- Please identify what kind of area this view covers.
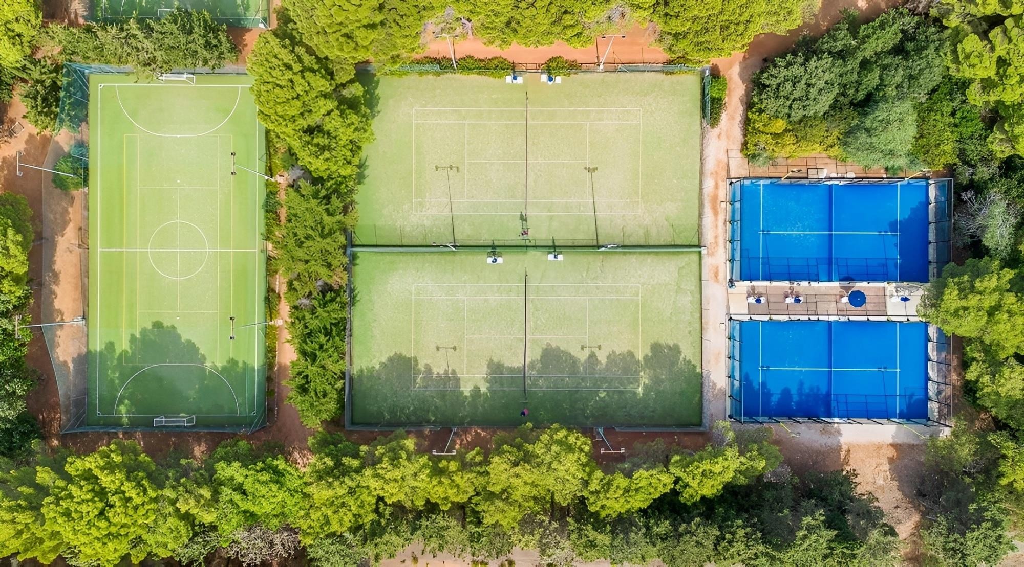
sports ground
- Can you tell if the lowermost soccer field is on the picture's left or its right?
left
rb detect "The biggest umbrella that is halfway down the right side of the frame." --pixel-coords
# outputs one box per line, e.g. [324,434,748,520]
[846,290,866,307]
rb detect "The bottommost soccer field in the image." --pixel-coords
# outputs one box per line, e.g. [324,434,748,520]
[86,74,267,427]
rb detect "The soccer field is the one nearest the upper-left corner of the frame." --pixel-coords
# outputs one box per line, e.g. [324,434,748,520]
[93,0,269,24]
